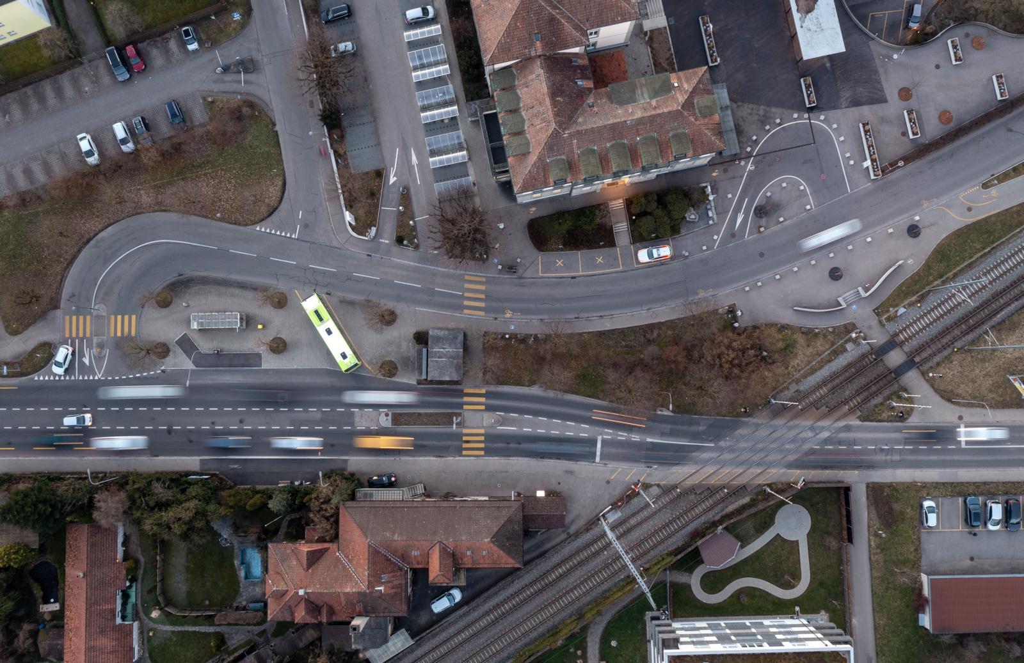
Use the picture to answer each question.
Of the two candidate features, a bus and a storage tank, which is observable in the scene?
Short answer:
bus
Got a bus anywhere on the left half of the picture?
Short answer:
Yes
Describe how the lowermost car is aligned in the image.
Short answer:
at an angle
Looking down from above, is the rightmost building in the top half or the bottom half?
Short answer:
bottom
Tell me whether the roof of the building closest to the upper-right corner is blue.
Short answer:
No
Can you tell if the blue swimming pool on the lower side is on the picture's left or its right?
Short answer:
left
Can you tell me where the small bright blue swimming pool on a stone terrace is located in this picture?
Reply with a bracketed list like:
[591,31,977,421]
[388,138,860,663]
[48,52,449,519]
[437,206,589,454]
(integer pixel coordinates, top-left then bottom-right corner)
[239,549,261,581]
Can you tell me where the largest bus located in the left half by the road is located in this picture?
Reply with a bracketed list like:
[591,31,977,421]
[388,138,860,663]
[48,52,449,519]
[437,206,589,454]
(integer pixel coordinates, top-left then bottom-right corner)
[303,288,361,374]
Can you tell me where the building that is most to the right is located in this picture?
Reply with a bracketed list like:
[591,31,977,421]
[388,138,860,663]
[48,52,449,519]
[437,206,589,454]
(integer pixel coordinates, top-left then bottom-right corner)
[915,570,1024,634]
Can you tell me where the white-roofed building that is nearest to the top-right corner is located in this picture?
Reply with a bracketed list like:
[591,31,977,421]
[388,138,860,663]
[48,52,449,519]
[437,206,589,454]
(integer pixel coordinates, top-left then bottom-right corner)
[781,0,845,72]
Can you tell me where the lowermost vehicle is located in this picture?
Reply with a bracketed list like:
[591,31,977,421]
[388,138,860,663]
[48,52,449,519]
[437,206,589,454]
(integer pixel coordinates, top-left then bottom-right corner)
[430,586,462,614]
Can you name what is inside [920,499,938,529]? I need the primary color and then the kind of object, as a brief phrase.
white car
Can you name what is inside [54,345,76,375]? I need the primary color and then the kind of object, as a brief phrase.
white car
